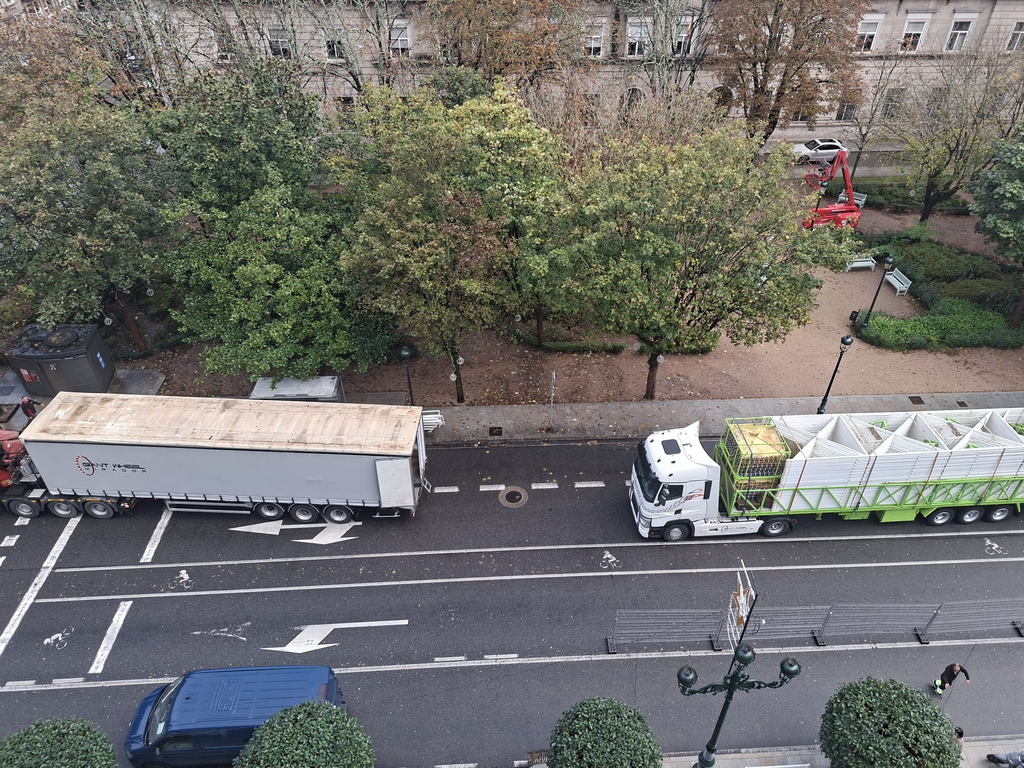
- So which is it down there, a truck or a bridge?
truck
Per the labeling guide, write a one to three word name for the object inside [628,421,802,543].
truck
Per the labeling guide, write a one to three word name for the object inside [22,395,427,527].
trailer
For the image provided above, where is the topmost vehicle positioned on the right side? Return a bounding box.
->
[783,140,837,166]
